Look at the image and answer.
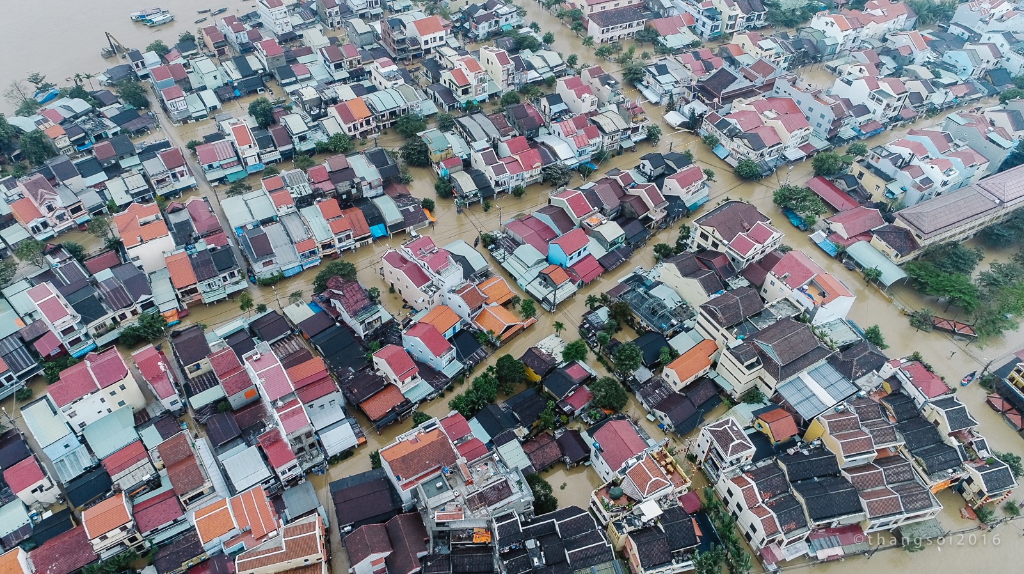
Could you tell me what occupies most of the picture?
buildings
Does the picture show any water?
Yes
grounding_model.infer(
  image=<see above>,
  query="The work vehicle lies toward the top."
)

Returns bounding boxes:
[106,32,134,57]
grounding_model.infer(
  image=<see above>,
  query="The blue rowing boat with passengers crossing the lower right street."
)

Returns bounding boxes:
[960,369,978,387]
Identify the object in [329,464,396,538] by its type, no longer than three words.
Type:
shed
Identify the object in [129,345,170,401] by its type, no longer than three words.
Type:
house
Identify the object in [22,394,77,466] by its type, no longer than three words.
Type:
house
